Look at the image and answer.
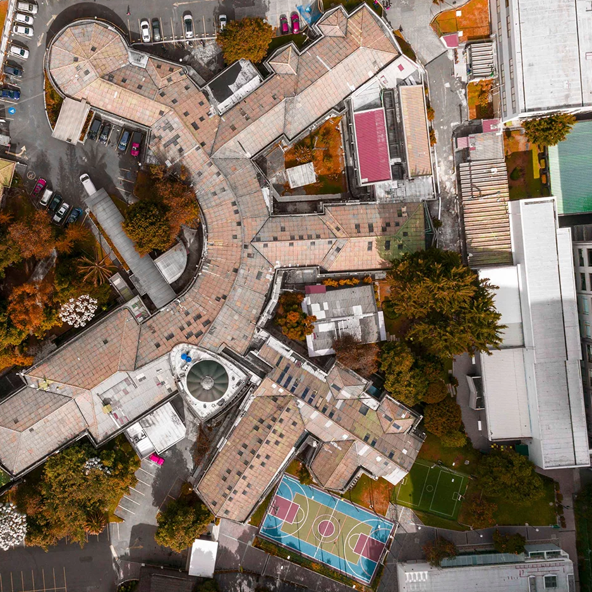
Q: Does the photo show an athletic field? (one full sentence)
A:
Yes, the image includes an athletic field.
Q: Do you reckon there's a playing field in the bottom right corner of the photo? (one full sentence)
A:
Yes, a playing field can be seen in the bottom right corner of the photo.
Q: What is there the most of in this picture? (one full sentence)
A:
Most of the picture is covered by buildings.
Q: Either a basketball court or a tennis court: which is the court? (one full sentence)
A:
The court in the image is a basketball court.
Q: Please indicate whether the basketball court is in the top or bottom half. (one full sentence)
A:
It is in the bottom half that the basketball court appears.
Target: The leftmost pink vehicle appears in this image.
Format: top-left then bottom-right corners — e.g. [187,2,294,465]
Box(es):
[32,176,47,197]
